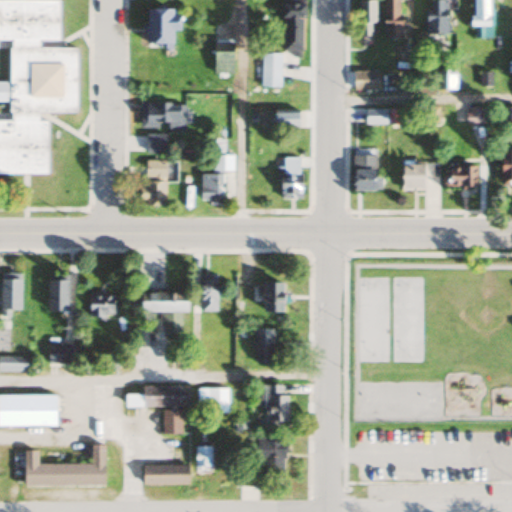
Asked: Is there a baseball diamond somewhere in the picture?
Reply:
Yes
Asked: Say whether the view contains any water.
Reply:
No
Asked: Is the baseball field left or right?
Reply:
right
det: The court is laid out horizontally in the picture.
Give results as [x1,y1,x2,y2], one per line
[360,382,444,416]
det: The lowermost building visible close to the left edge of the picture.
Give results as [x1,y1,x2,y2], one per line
[26,446,106,488]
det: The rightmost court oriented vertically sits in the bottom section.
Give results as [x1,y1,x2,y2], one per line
[393,278,425,363]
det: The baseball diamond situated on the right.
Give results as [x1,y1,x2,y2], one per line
[458,270,512,338]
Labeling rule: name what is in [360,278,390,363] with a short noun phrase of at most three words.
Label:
sports court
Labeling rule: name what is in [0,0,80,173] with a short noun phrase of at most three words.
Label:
building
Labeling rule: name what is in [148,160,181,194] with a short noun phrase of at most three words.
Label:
house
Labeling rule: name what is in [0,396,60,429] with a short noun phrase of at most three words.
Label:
building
